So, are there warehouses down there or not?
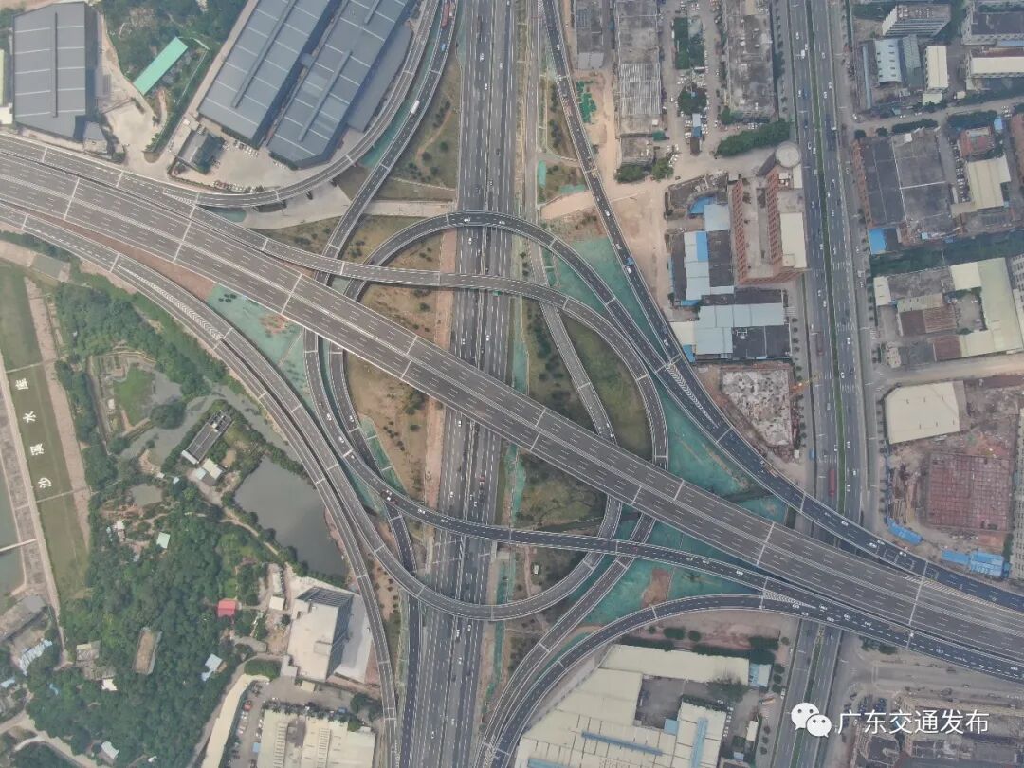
Yes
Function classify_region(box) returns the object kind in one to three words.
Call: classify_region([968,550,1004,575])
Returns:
building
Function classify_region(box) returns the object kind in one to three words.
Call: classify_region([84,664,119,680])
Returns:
house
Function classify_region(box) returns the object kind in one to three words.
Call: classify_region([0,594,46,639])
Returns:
shed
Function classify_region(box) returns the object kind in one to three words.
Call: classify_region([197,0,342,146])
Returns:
warehouse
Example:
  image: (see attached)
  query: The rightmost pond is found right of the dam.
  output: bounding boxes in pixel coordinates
[234,456,344,575]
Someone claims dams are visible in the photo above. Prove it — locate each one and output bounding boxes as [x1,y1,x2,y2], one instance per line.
[0,237,84,633]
